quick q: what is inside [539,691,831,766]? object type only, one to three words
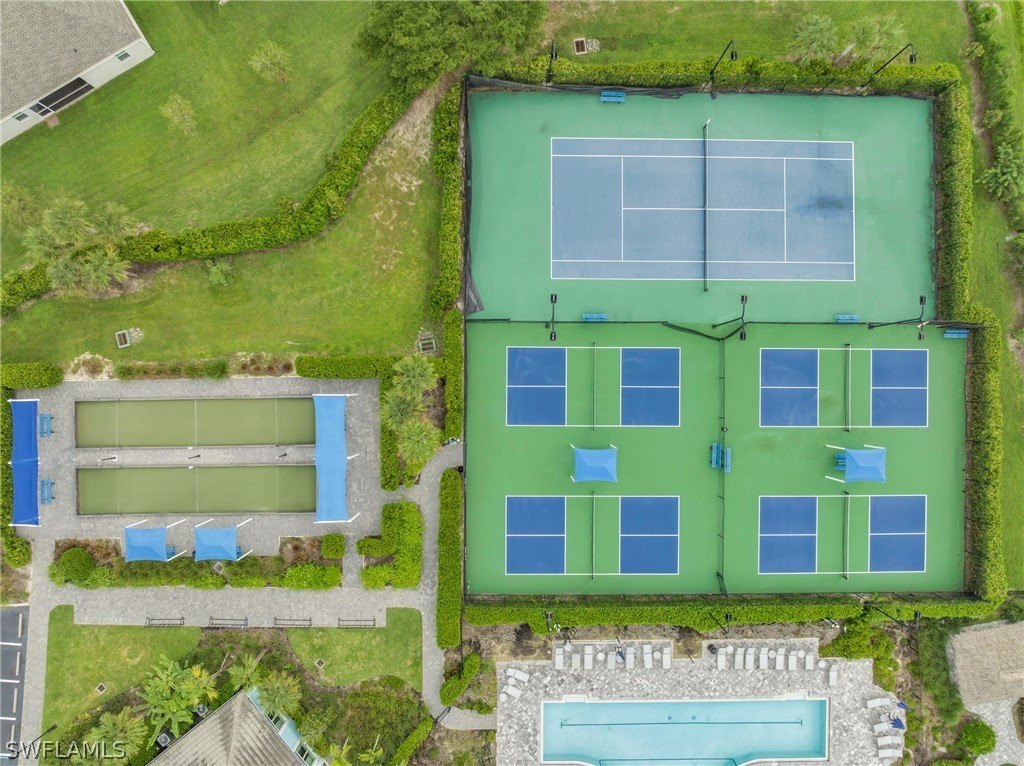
swimming pool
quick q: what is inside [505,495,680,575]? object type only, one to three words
sports court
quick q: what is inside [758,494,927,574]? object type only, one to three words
sports court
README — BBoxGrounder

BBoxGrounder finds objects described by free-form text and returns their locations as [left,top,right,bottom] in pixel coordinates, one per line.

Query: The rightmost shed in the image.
[943,616,1024,710]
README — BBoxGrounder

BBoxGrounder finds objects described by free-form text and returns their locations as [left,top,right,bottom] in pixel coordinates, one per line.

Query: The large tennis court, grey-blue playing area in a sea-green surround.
[466,88,937,323]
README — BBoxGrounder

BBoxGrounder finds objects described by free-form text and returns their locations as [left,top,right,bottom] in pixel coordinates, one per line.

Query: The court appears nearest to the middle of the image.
[506,347,681,428]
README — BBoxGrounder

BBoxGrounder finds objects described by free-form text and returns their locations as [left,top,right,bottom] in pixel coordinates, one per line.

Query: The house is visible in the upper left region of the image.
[0,0,154,143]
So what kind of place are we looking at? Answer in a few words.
sports ground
